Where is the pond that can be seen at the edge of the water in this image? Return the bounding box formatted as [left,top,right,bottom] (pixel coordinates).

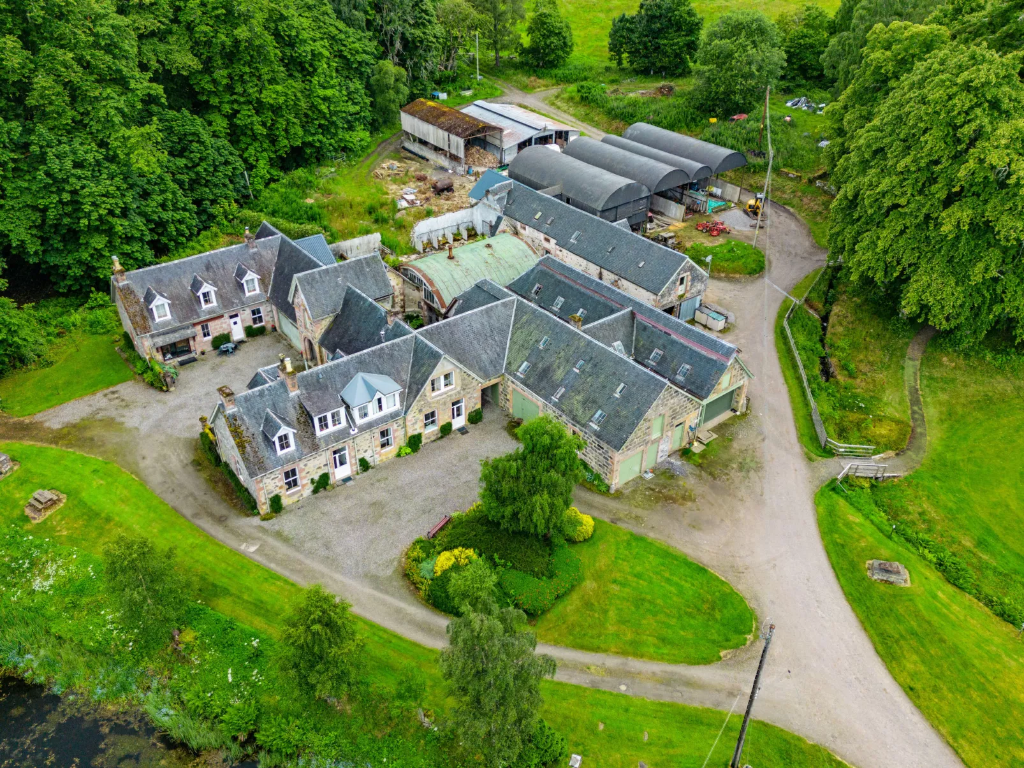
[0,671,269,768]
